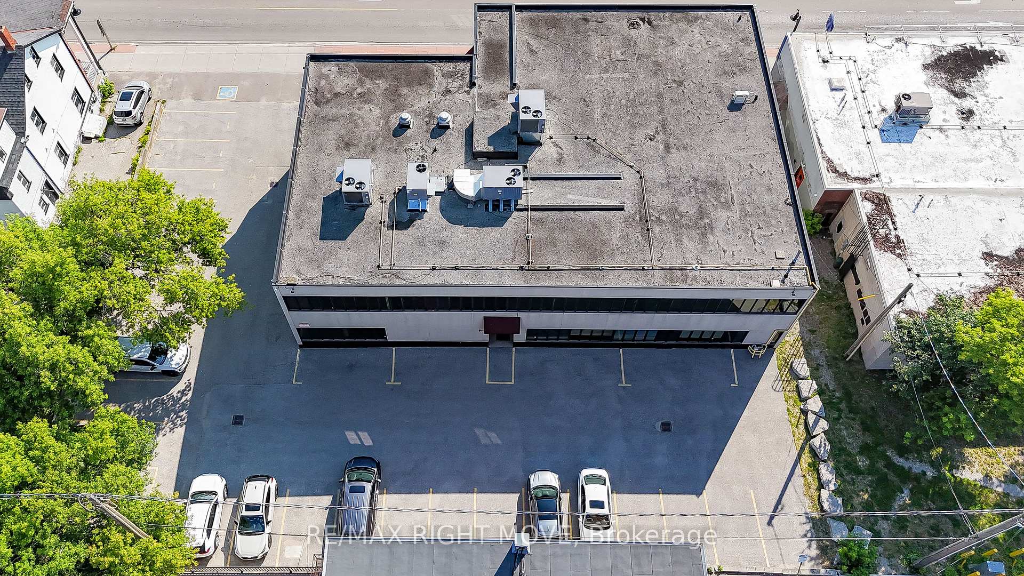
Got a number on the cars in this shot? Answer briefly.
7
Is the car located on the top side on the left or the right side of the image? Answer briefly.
left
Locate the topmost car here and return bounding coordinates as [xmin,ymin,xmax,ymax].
[108,78,152,133]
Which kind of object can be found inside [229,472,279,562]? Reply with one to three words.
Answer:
car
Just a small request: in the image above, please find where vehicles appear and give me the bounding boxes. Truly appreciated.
[108,78,152,133]
[338,455,382,538]
[525,468,566,537]
[181,473,227,559]
[229,472,279,562]
[576,468,618,537]
[105,336,193,370]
